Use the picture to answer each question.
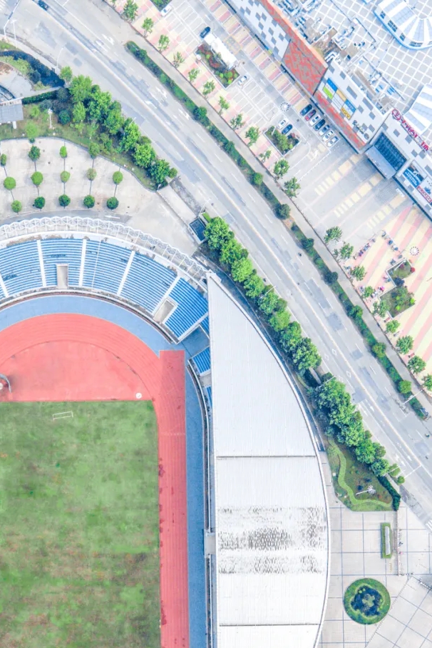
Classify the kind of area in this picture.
sports ground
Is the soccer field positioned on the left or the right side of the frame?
left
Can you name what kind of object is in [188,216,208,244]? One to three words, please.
shed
